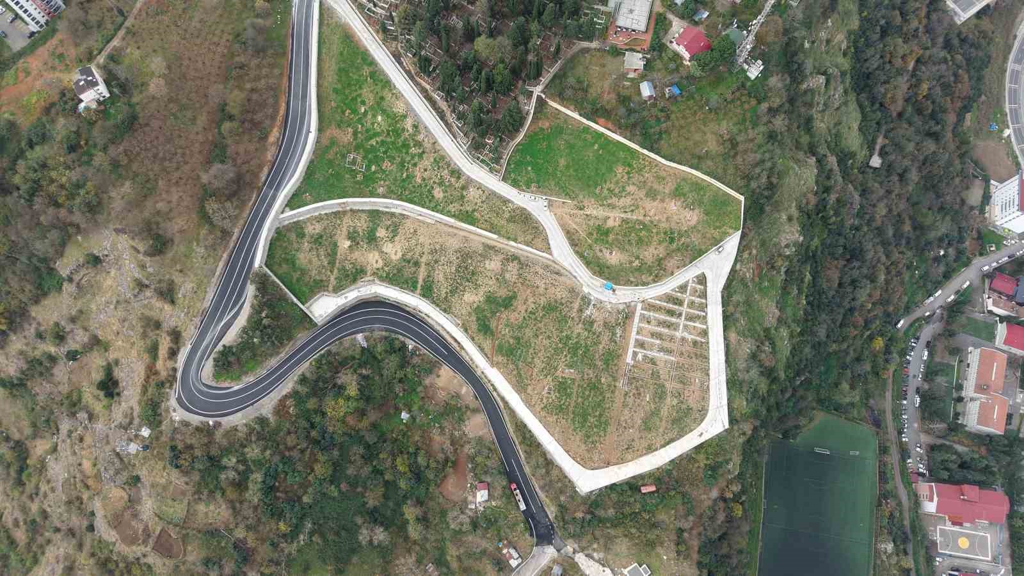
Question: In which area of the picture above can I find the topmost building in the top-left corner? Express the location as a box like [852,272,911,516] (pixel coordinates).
[6,0,61,29]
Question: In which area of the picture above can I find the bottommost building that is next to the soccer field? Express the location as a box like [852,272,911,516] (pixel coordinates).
[918,482,1009,525]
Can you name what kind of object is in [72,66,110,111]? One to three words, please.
house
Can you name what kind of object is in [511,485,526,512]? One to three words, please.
vehicle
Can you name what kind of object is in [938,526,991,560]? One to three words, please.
basketball court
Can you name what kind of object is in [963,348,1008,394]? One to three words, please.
building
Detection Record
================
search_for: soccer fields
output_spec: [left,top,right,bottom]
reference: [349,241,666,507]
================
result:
[757,410,878,576]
